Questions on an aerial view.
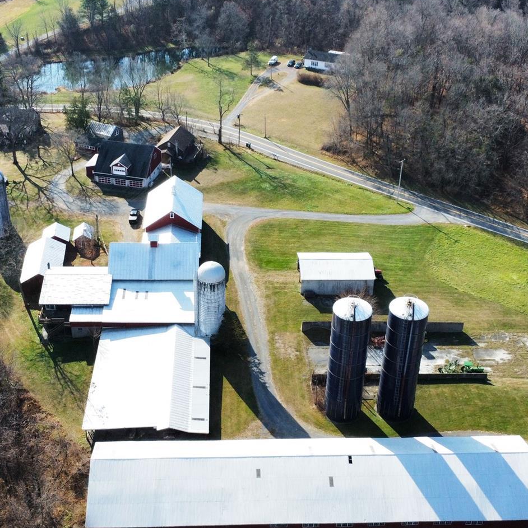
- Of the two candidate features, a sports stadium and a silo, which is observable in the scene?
silo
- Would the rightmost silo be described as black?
Yes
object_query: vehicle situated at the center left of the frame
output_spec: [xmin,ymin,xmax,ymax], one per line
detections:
[128,209,140,221]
